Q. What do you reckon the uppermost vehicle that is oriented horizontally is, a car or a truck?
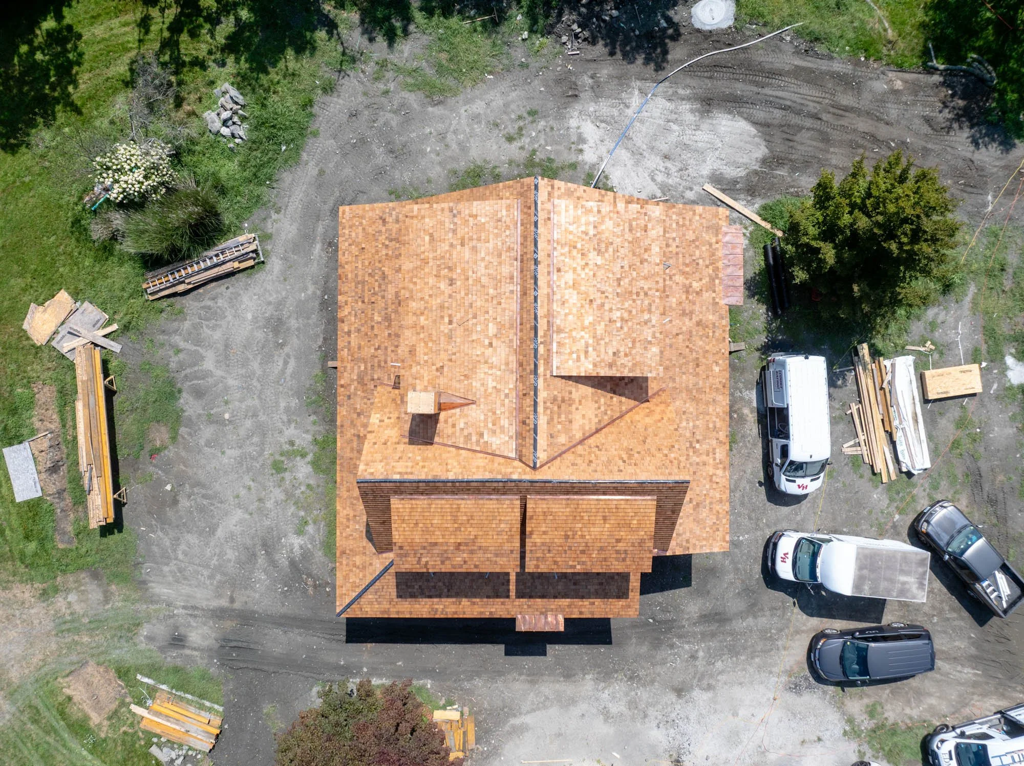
truck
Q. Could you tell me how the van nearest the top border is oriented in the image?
vertically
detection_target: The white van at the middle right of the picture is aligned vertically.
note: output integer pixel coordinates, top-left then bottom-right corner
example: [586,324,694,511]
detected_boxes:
[763,354,833,495]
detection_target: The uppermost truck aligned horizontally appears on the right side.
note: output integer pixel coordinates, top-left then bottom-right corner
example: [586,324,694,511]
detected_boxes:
[764,530,932,604]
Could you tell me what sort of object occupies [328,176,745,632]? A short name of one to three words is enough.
house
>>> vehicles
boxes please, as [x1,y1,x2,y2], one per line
[926,698,1024,766]
[764,530,932,604]
[809,621,941,686]
[916,499,1024,621]
[763,354,833,495]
